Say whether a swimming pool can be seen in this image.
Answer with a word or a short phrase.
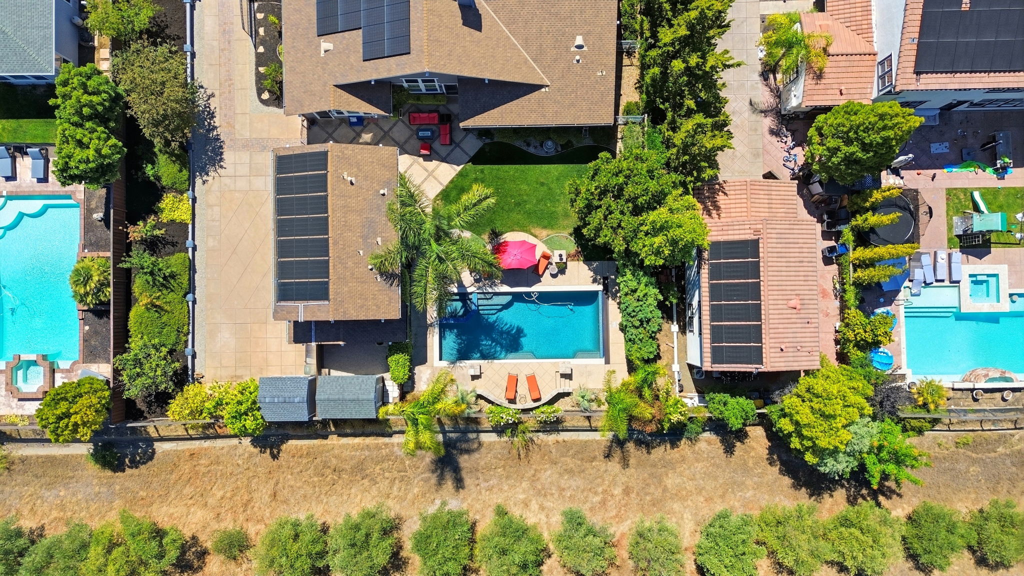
Yes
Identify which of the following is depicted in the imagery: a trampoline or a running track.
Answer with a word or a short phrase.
trampoline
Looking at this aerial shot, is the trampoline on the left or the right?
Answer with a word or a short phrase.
right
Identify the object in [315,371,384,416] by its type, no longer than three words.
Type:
shed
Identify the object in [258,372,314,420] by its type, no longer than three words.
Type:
shed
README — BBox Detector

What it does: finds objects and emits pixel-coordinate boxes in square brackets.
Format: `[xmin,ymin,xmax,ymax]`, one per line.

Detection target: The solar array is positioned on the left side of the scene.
[315,0,409,59]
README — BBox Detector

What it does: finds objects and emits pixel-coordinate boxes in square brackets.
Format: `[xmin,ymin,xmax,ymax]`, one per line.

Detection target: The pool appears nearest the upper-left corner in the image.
[0,191,84,365]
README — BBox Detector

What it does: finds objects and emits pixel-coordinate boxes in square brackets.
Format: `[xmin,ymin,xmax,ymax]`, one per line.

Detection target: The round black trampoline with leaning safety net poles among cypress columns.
[861,188,932,247]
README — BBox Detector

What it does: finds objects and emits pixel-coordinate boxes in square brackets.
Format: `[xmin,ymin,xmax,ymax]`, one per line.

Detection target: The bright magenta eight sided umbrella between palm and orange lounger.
[496,241,537,270]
